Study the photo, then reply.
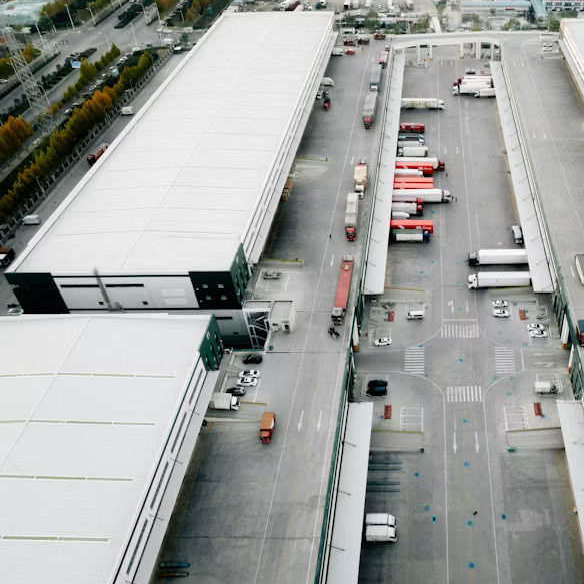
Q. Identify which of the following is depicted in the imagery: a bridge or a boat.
bridge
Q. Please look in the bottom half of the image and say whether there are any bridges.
No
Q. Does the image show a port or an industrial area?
industrial area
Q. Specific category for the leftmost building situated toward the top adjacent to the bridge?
warehouse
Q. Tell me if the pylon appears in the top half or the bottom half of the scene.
top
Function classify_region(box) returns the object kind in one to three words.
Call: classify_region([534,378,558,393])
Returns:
vehicle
